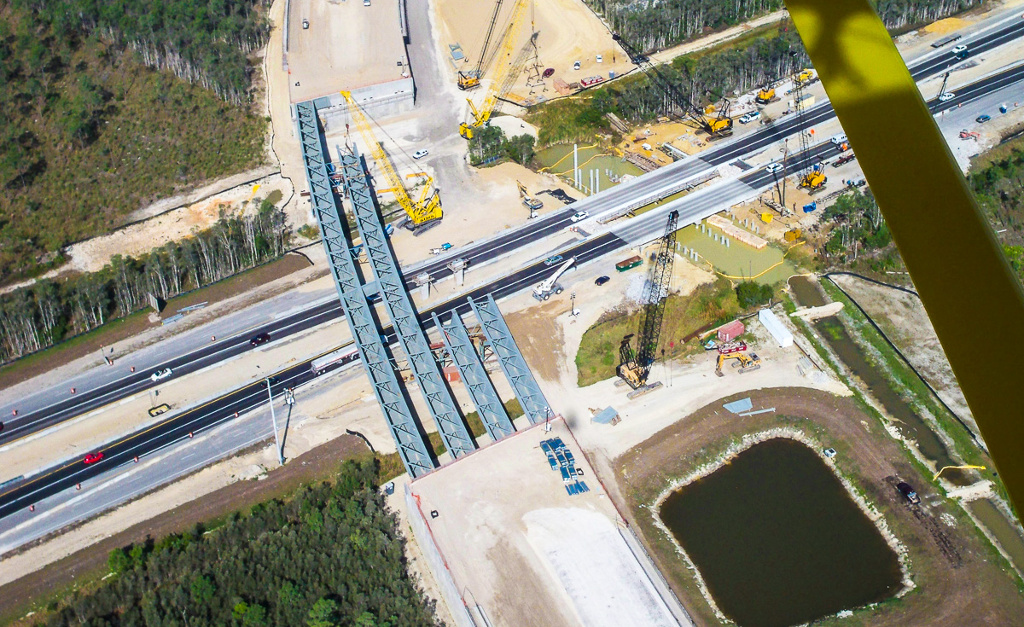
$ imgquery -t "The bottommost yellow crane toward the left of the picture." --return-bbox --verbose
[343,92,449,233]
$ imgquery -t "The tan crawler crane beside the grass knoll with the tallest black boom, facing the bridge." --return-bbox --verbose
[609,211,681,391]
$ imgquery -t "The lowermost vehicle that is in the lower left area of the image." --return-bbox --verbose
[80,450,105,463]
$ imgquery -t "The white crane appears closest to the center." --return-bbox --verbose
[534,259,577,300]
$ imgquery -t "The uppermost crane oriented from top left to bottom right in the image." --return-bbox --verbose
[610,33,744,141]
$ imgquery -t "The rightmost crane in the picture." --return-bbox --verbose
[791,49,836,192]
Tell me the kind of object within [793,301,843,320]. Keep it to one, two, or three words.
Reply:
dam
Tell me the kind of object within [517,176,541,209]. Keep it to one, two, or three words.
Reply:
work vehicle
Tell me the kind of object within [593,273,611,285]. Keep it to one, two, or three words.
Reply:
vehicle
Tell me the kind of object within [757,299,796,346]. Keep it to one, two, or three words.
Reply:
trailer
